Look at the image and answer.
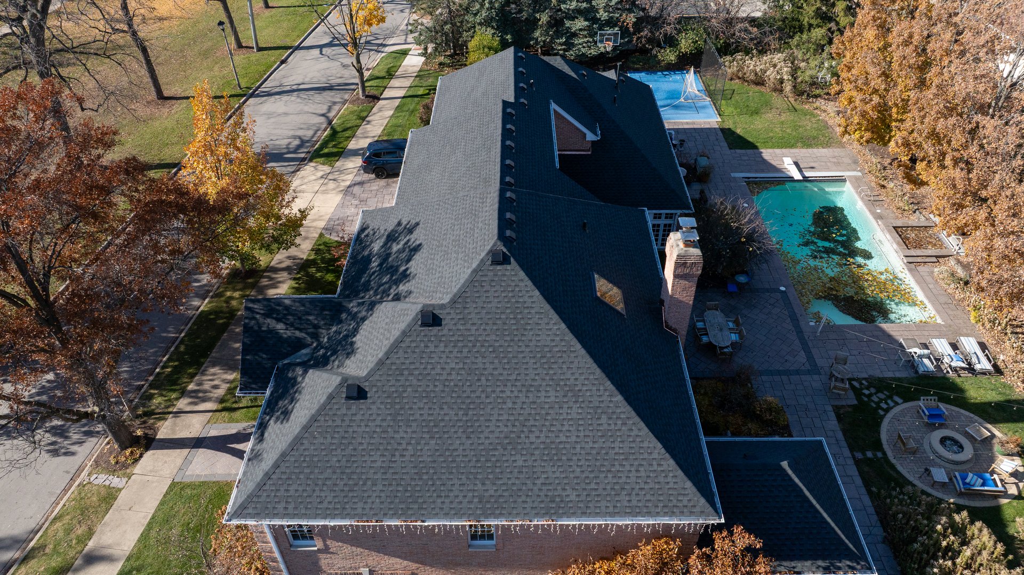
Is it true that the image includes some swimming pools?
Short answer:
Yes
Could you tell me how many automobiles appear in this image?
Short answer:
1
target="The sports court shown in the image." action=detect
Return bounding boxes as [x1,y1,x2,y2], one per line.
[628,70,722,122]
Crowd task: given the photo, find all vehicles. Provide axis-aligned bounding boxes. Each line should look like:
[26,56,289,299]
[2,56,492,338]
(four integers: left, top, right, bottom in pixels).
[360,133,408,175]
